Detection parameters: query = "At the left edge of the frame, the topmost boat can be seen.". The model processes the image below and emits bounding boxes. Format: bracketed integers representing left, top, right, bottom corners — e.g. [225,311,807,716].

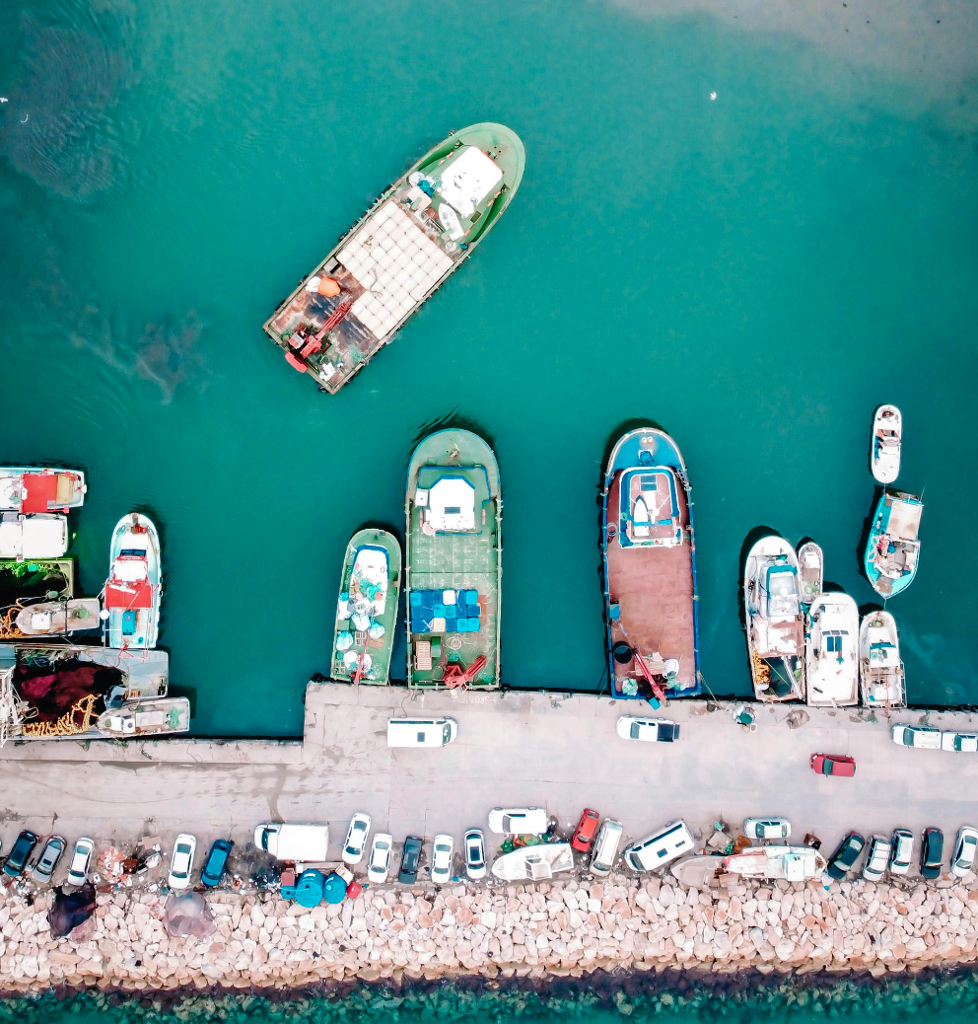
[0,467,87,513]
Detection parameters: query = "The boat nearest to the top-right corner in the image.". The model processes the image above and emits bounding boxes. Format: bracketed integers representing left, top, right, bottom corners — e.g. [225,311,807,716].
[870,404,902,483]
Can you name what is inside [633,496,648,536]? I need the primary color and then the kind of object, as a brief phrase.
white boat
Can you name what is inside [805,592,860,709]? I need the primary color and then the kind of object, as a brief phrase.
white boat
